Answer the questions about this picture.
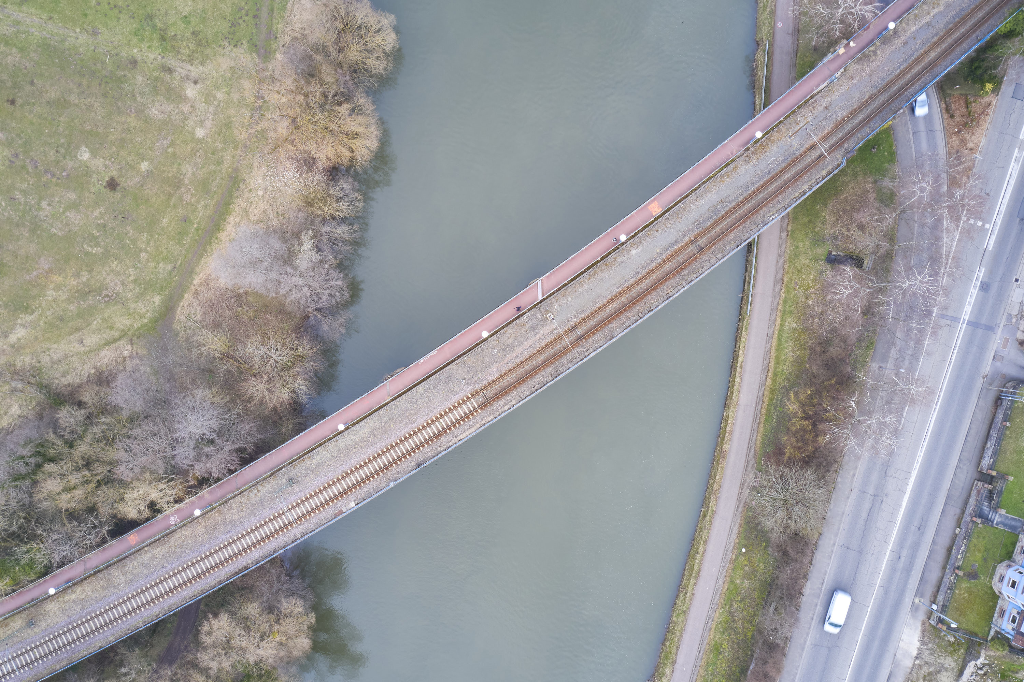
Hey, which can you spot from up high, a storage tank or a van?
van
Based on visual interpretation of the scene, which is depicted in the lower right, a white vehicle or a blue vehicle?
white vehicle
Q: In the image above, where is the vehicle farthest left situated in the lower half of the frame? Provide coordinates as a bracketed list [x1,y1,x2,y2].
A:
[822,592,851,632]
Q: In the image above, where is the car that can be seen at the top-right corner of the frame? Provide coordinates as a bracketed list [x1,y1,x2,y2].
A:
[913,92,933,116]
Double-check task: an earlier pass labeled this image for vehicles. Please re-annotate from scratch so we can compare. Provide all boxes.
[822,592,851,632]
[913,92,933,116]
